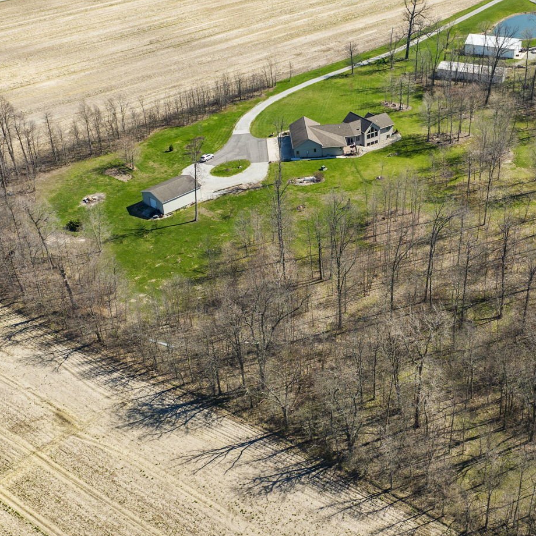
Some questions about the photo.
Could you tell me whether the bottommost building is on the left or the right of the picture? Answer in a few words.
left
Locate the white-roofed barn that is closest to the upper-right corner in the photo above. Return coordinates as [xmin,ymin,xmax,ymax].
[464,35,519,58]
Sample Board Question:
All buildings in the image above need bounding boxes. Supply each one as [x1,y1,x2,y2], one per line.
[139,172,204,213]
[464,35,519,58]
[289,107,396,157]
[435,61,505,83]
